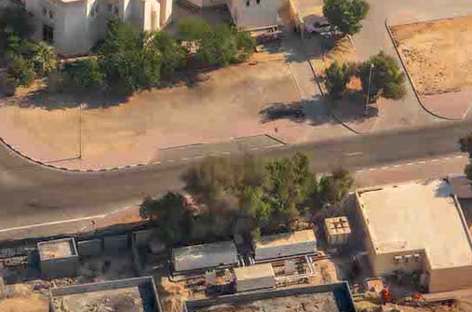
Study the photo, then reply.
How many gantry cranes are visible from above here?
0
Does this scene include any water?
No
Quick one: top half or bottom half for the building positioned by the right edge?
bottom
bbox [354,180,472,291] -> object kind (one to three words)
building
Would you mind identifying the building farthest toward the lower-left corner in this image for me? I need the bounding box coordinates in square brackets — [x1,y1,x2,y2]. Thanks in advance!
[170,238,238,272]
